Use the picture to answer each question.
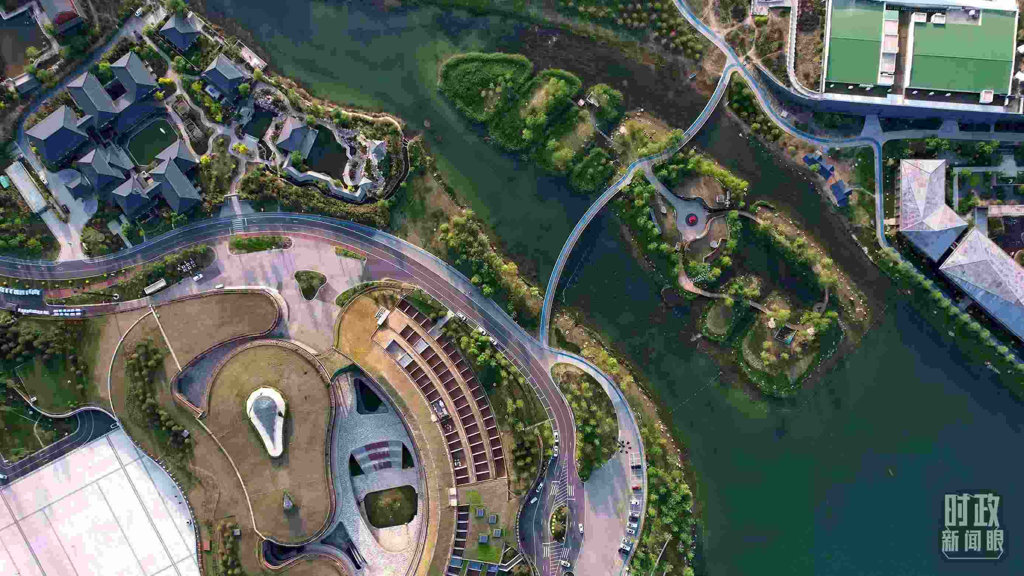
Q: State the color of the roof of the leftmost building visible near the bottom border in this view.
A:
white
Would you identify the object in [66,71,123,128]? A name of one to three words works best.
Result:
house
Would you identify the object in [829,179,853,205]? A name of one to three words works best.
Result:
house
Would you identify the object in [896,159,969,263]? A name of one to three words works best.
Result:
building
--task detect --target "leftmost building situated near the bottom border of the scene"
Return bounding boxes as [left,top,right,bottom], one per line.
[0,423,201,576]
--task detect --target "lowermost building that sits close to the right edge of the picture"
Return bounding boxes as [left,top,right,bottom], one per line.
[936,227,1024,340]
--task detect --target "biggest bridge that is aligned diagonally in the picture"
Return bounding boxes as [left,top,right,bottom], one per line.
[539,61,742,348]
